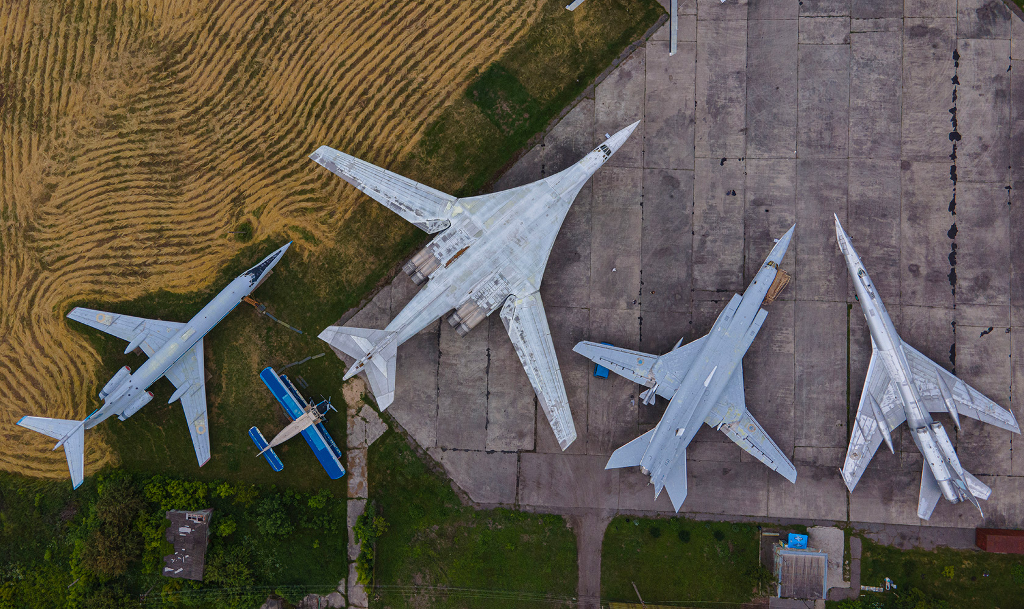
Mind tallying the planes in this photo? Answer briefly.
five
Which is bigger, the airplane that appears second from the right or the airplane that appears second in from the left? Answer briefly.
the airplane that appears second from the right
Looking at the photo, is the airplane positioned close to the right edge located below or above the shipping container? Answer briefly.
above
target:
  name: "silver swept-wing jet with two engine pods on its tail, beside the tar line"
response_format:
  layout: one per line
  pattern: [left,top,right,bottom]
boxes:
[834,213,1021,524]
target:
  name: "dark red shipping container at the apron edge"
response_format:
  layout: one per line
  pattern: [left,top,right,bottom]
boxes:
[975,529,1024,555]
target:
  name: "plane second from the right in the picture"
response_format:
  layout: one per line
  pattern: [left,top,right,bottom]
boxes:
[572,223,797,513]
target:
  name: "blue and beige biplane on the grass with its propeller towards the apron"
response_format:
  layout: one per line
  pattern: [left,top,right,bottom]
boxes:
[249,366,345,479]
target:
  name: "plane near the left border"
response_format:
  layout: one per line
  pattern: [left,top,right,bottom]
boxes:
[17,241,292,490]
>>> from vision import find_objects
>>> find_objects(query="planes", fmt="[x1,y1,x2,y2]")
[309,120,640,451]
[17,241,292,490]
[834,213,1021,524]
[572,223,797,513]
[249,366,345,479]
